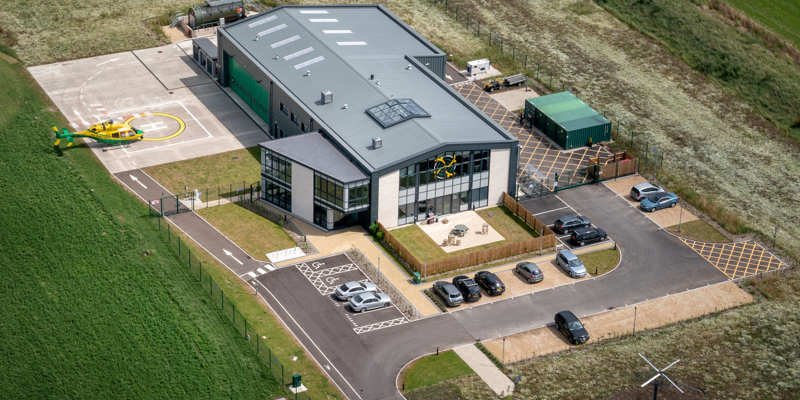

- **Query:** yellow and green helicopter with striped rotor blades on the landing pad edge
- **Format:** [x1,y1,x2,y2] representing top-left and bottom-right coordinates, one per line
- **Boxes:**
[48,108,153,151]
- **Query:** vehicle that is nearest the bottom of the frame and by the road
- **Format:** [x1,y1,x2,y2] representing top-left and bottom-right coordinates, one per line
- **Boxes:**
[554,309,592,345]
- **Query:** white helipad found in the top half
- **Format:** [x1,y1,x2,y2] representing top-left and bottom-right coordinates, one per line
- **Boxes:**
[27,41,279,173]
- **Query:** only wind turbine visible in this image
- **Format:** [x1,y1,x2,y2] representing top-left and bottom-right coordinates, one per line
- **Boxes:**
[639,353,680,400]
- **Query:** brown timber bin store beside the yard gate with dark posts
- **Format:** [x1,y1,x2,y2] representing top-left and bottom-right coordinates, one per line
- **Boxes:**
[586,148,643,179]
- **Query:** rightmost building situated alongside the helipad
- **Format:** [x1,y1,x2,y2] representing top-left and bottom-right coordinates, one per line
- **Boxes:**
[216,4,521,231]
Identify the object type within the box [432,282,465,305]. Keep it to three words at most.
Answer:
car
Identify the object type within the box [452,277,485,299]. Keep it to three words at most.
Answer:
car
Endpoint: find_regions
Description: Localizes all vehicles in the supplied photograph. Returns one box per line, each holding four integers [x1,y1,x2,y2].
[514,261,546,284]
[334,278,379,300]
[482,70,508,91]
[452,277,485,299]
[432,282,465,305]
[554,309,592,345]
[474,272,508,295]
[550,213,593,234]
[563,222,607,245]
[623,181,661,200]
[347,289,394,311]
[639,191,678,210]
[553,247,588,276]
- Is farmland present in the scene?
Yes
